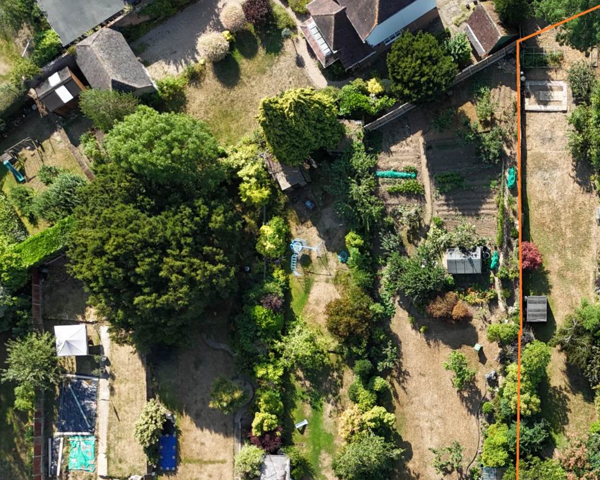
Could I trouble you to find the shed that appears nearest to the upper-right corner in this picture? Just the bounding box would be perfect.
[465,2,517,62]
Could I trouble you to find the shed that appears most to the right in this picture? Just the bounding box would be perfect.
[528,297,547,323]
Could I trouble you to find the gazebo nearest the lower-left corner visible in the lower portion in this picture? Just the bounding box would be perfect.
[54,325,101,357]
